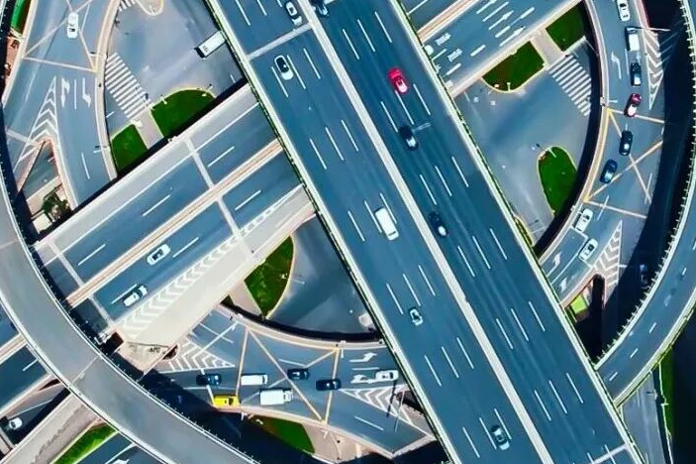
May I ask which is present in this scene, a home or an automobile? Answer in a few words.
automobile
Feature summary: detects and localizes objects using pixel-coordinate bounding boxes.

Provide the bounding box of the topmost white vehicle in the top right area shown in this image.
[616,0,630,21]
